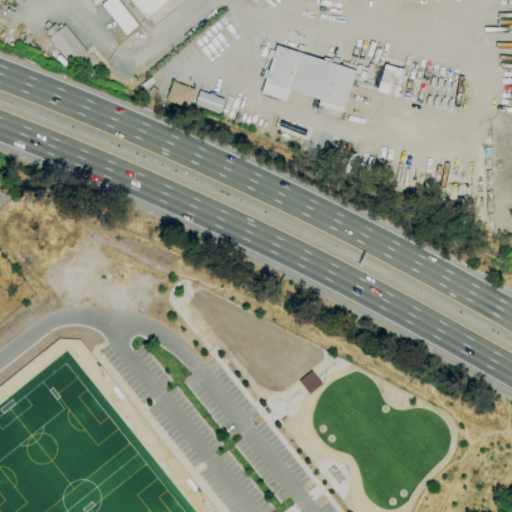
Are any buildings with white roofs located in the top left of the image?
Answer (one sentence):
Yes, a building with a white roof can be seen in the top left of the image.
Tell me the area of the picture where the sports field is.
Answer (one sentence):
The sports field is in the bottom left part of the image.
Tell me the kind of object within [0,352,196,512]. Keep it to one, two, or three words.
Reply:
sports field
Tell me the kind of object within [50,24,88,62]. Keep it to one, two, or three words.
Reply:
shed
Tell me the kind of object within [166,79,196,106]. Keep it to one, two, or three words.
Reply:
building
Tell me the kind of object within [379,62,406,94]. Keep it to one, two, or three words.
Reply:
shed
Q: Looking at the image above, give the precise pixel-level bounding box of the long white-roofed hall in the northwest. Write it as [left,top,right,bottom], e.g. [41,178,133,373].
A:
[102,0,140,36]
